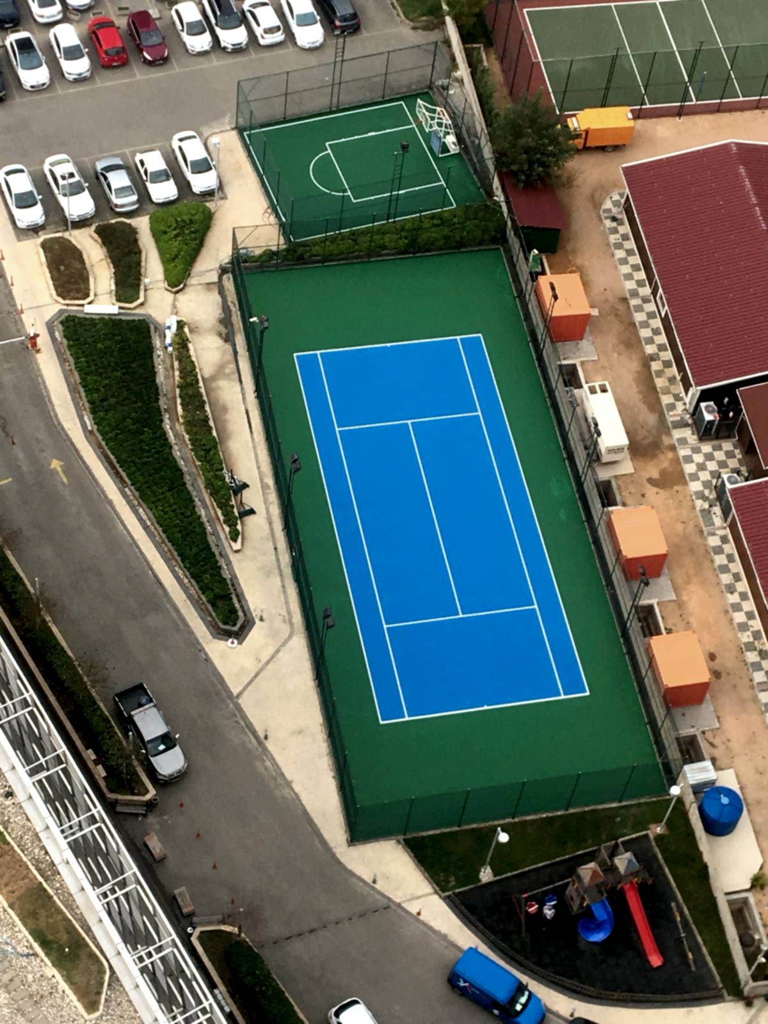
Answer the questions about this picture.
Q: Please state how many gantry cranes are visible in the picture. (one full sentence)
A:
The picture shows no gantry cranes.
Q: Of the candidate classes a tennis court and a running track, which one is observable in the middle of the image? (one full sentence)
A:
You can see a tennis court in the middle of the image.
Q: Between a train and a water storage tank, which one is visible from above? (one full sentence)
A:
It is a water storage tank that can be seen here.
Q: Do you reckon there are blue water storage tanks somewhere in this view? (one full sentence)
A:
Yes, there is a blue water storage tank in the image.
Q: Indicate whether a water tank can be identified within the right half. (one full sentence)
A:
Yes, looking within the right half, one can make out a water tank.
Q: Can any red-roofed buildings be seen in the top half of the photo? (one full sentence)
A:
Yes, in the top half of the photo there is a red-roofed building.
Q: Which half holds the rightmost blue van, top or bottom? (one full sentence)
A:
The rightmost blue van is in the bottom half of the image.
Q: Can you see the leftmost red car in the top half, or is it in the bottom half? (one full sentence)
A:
Seen from above, the leftmost red car lies in the top half of the view.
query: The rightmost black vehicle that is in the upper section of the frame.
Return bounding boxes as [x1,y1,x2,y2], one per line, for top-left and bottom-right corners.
[315,0,361,38]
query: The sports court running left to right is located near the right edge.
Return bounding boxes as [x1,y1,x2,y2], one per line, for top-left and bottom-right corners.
[496,0,768,128]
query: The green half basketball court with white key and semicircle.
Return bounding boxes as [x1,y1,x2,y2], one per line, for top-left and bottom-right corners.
[238,90,492,241]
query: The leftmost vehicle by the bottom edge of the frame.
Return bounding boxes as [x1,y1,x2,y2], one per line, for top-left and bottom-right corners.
[323,991,378,1024]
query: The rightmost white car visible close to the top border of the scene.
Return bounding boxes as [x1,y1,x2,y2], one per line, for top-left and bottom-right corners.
[277,0,324,51]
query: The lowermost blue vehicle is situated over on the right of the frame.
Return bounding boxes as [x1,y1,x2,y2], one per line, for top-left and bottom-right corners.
[448,953,547,1024]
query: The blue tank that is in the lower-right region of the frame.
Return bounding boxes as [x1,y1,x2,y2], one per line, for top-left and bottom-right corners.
[697,796,746,847]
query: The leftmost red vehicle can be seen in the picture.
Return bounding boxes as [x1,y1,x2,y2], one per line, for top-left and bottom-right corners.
[88,21,131,71]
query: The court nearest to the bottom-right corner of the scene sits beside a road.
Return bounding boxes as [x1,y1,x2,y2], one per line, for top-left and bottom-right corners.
[247,249,658,811]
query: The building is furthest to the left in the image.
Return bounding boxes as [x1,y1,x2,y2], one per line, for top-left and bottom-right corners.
[0,633,230,1024]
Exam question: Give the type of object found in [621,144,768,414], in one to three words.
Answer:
building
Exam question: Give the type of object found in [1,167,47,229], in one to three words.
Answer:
car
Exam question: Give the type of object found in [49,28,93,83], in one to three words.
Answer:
car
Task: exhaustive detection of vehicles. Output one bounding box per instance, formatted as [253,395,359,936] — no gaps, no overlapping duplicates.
[88,21,131,71]
[127,13,171,67]
[49,28,93,83]
[7,36,52,93]
[30,0,62,19]
[63,0,93,12]
[130,145,177,206]
[323,991,378,1024]
[202,0,249,54]
[169,135,216,196]
[45,159,95,223]
[315,0,361,38]
[242,3,288,52]
[170,2,216,56]
[277,0,324,51]
[550,106,635,162]
[97,161,142,219]
[110,683,186,789]
[1,167,47,229]
[448,953,547,1024]
[0,70,9,101]
[564,1016,592,1024]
